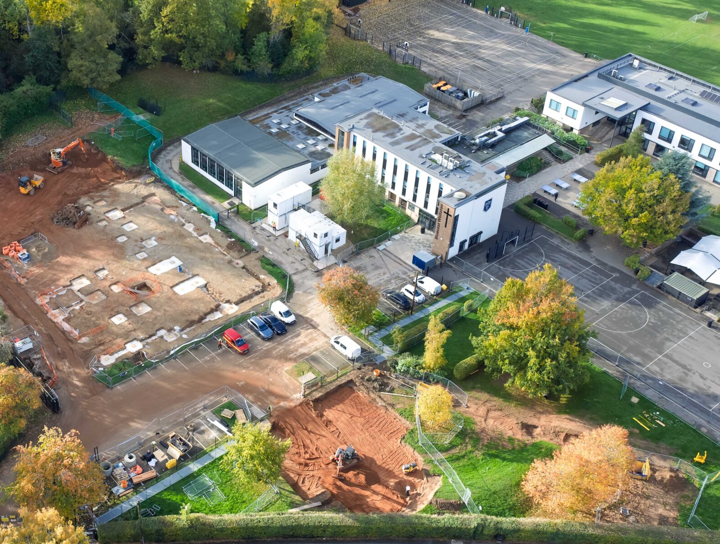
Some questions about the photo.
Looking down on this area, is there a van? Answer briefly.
Yes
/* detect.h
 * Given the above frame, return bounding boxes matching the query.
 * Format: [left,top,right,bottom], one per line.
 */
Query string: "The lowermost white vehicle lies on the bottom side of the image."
[332,337,365,363]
